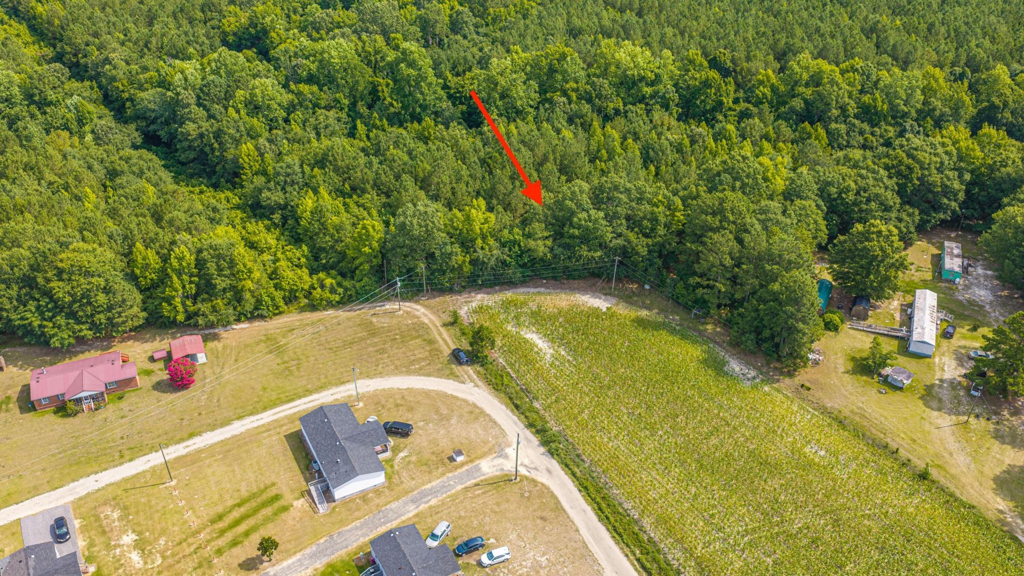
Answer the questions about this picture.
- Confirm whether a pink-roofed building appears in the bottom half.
Yes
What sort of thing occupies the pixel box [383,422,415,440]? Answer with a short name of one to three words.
car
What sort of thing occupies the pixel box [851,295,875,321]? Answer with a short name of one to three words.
shed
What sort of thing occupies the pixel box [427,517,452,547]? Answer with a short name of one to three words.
car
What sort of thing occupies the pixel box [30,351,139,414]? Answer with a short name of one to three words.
house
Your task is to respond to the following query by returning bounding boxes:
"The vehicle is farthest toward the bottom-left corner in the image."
[52,515,70,543]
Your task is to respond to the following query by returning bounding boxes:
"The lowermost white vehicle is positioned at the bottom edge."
[478,544,513,569]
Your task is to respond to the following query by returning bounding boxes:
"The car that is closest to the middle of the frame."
[451,348,470,365]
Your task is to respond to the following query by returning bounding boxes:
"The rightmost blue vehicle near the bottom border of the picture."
[453,535,487,559]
